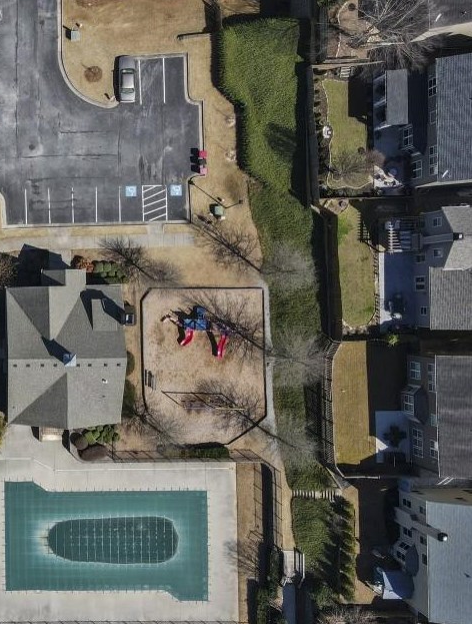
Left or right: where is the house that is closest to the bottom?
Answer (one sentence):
It is on the right.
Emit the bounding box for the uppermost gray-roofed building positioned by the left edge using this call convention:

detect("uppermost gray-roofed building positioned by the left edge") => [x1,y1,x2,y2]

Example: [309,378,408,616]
[7,269,137,430]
